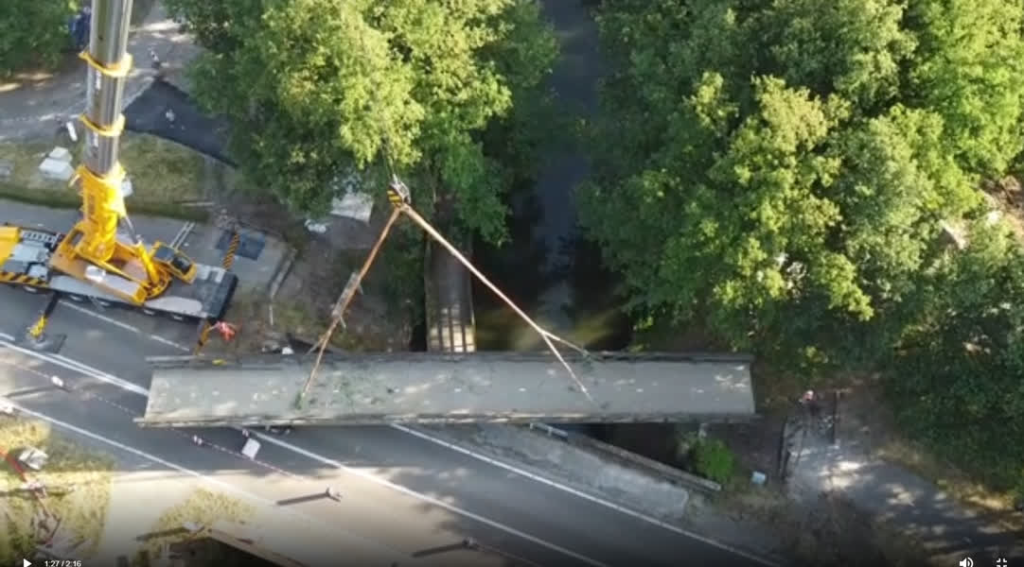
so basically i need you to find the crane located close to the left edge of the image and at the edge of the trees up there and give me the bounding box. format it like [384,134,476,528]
[0,0,264,358]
